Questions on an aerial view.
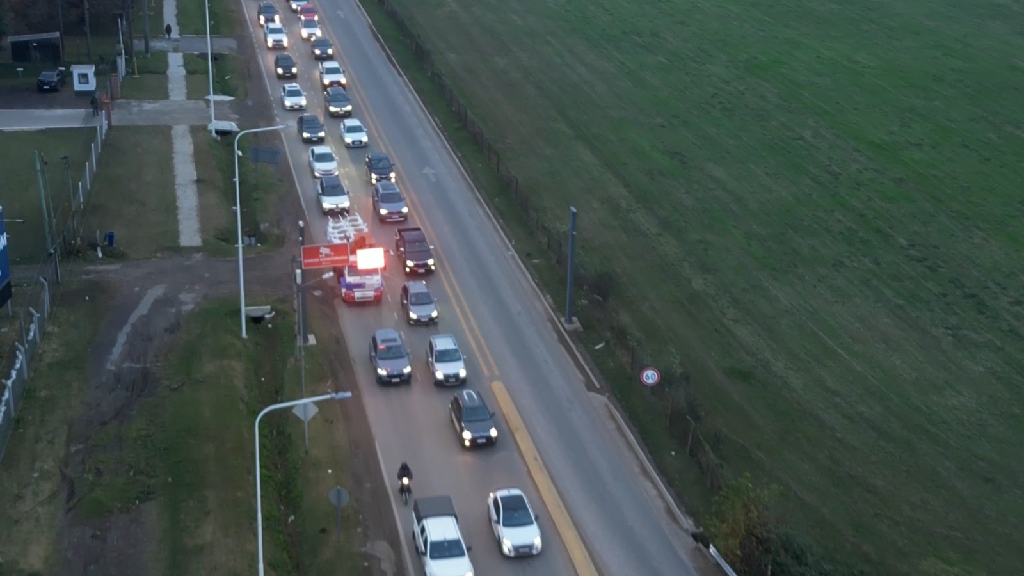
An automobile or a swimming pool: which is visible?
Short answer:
automobile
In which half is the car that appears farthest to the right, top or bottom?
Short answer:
bottom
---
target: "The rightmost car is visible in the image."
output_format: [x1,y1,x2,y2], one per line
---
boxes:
[484,490,542,559]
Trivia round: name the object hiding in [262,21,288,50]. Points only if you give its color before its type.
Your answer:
white truck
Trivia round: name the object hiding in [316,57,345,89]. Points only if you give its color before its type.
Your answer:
white truck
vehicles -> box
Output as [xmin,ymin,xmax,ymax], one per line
[398,276,437,325]
[391,227,434,273]
[411,493,473,576]
[324,85,352,118]
[296,2,319,22]
[316,57,345,89]
[484,490,542,559]
[279,84,306,111]
[423,332,466,386]
[262,21,288,50]
[448,384,496,448]
[307,145,338,178]
[367,329,411,384]
[362,146,396,184]
[256,0,280,27]
[297,15,322,40]
[325,230,385,302]
[308,34,334,60]
[297,113,325,143]
[394,472,412,502]
[316,175,349,214]
[338,116,368,148]
[371,179,407,222]
[286,0,306,13]
[272,51,297,79]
